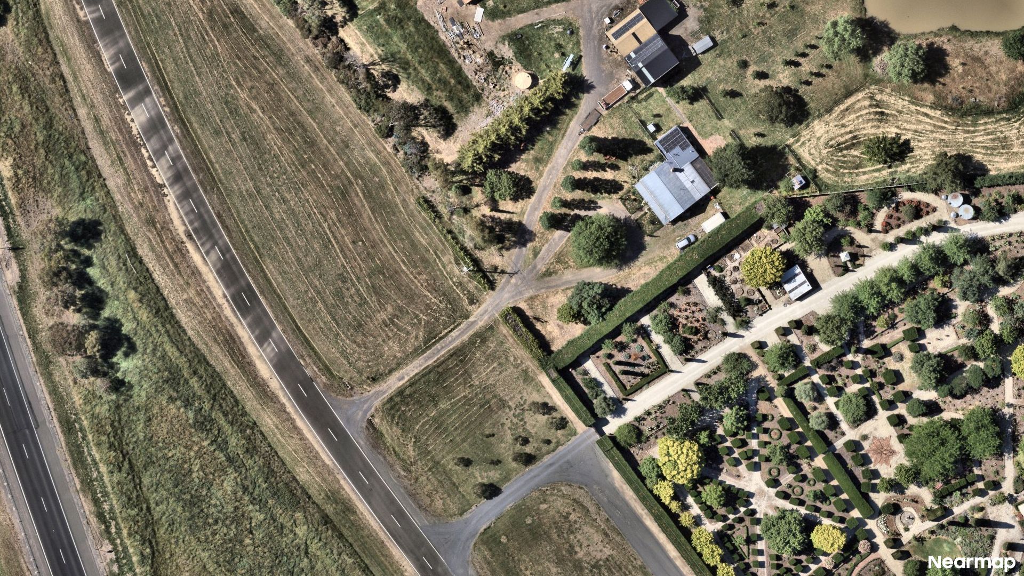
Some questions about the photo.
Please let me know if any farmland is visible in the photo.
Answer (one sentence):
Yes, some farmland is visible.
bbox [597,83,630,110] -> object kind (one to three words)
truck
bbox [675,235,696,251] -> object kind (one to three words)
car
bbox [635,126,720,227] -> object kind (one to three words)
house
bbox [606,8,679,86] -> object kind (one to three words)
shed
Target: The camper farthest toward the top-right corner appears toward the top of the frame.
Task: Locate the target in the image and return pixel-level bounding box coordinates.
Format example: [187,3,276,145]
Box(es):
[694,35,712,53]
